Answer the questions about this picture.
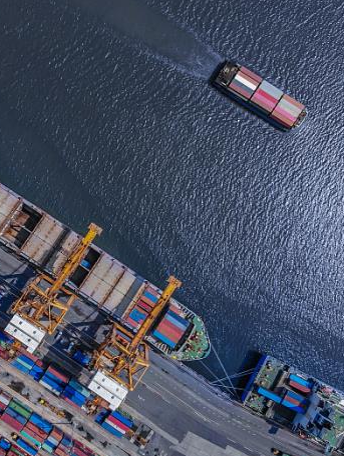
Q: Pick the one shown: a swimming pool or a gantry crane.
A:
gantry crane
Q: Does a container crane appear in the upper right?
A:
No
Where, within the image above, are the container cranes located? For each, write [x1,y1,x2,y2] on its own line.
[82,273,183,410]
[3,218,104,354]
